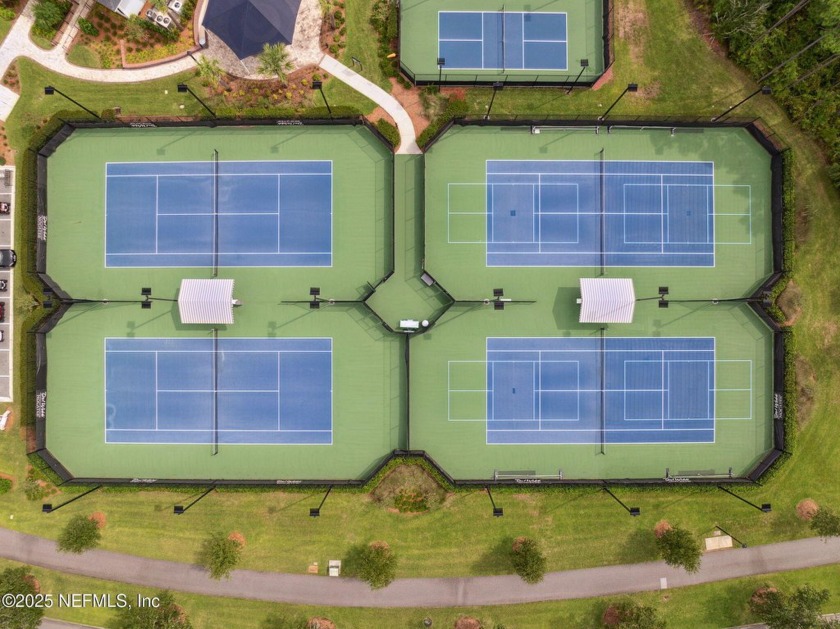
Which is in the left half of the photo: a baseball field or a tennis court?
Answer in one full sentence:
The feature located in the left half of the photo is a tennis court.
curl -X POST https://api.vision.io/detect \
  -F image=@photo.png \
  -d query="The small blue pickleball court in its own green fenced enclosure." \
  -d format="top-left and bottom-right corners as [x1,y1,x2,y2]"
[401,0,605,86]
